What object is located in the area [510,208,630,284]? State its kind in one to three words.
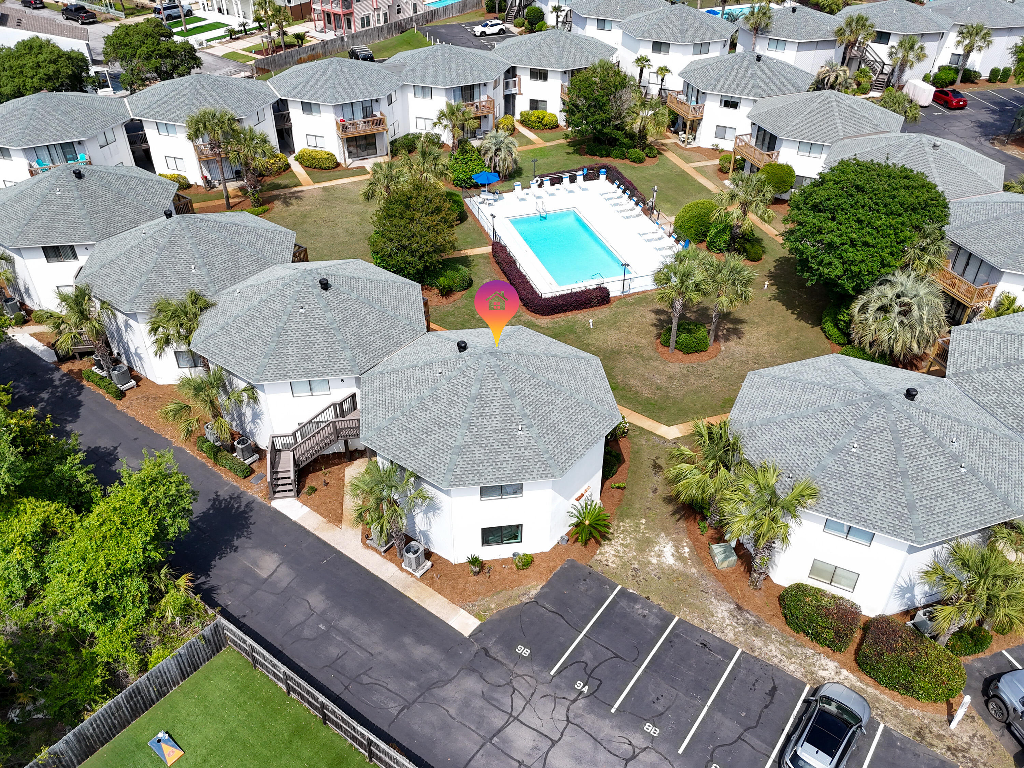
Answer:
swimming pool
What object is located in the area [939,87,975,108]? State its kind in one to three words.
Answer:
car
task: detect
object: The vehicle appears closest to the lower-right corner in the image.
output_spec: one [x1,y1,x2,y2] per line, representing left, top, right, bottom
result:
[988,667,1024,732]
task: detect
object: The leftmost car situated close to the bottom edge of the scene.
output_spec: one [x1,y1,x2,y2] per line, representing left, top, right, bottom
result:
[781,675,879,768]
